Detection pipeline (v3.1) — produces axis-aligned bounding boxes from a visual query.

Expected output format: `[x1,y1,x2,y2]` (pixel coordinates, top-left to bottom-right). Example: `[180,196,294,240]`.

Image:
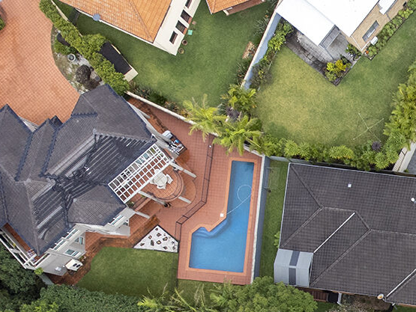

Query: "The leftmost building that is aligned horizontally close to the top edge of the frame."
[66,0,200,57]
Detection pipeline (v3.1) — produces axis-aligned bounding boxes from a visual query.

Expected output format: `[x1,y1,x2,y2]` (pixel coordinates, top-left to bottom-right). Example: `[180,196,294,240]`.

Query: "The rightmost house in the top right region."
[272,0,393,54]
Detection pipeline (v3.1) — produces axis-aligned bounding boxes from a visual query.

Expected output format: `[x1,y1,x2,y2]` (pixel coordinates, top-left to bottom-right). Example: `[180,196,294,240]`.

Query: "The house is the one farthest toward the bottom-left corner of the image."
[0,82,173,273]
